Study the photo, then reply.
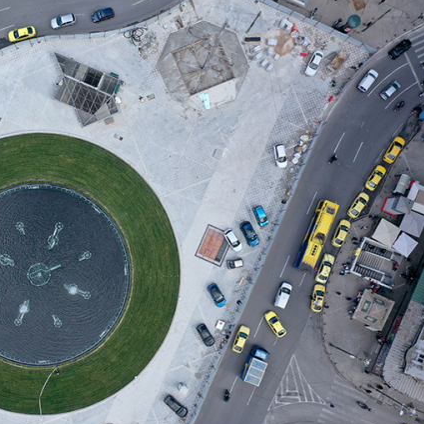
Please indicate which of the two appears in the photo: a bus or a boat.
bus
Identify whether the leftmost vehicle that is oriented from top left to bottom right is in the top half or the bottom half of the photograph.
bottom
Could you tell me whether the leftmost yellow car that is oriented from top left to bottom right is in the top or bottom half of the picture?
bottom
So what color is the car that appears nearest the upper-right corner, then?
black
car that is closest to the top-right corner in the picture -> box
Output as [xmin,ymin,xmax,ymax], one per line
[385,37,414,62]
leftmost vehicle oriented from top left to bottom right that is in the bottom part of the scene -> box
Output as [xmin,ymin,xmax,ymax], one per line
[163,392,188,419]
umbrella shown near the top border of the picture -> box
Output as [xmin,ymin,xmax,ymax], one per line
[334,14,362,35]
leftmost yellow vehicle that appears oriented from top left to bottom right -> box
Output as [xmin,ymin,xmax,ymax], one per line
[264,309,286,337]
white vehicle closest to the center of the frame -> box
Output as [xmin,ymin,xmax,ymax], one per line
[222,228,242,253]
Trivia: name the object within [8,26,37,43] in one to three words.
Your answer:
car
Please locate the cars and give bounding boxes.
[239,220,259,248]
[89,6,117,24]
[207,281,226,309]
[304,49,324,77]
[252,203,269,228]
[330,219,350,248]
[365,163,385,192]
[226,258,245,271]
[385,37,414,62]
[8,26,37,43]
[273,143,289,168]
[382,137,405,165]
[316,253,334,282]
[378,79,401,102]
[194,321,216,348]
[49,13,77,29]
[347,191,368,219]
[274,282,292,309]
[222,228,242,253]
[264,309,286,337]
[233,324,249,353]
[355,68,380,95]
[310,283,326,312]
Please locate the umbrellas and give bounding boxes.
[400,210,424,237]
[334,14,362,35]
[391,232,418,257]
[372,219,400,247]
